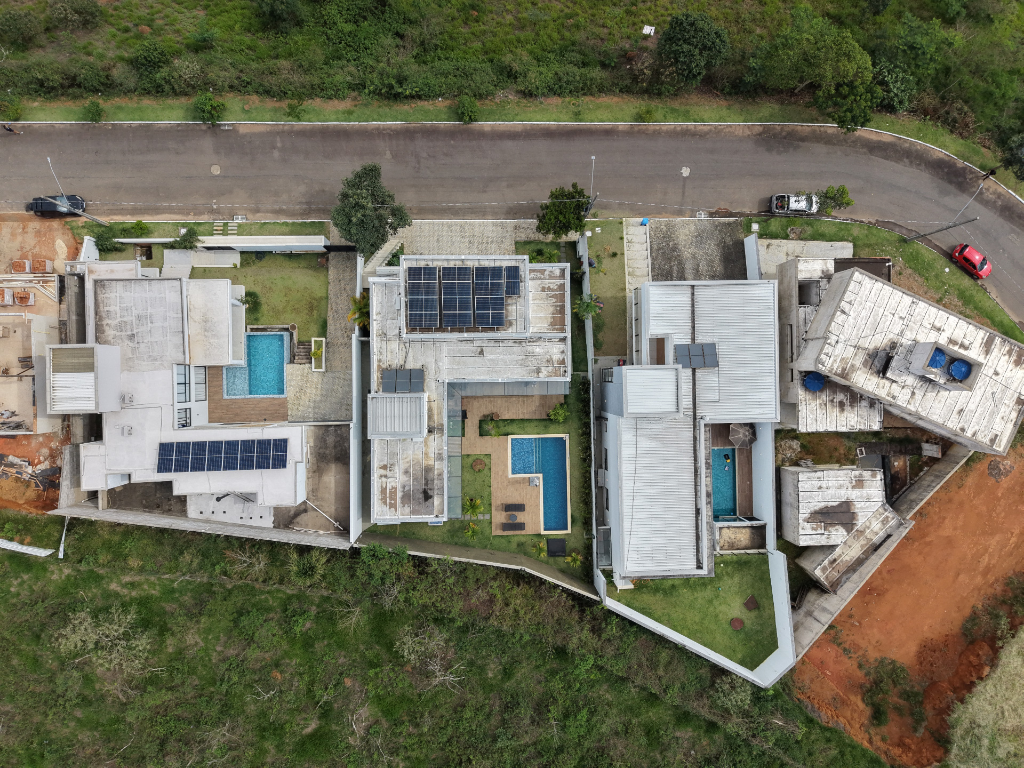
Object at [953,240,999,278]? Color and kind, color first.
red car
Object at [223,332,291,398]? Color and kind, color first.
blue swimming pool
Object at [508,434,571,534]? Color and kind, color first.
blue swimming pool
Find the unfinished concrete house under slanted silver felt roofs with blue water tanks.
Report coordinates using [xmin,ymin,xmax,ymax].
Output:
[777,258,1024,454]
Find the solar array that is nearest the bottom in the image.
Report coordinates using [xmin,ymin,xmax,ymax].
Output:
[157,438,288,473]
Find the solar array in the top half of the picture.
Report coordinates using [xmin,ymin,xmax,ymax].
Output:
[408,261,520,333]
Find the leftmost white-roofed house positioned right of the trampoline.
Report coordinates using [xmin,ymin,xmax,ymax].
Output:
[595,281,780,580]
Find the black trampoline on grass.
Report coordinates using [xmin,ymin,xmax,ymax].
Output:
[548,539,565,557]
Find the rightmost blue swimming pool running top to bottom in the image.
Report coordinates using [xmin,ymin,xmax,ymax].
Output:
[713,447,738,516]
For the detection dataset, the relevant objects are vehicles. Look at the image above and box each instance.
[771,190,824,216]
[20,190,85,219]
[953,240,999,278]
